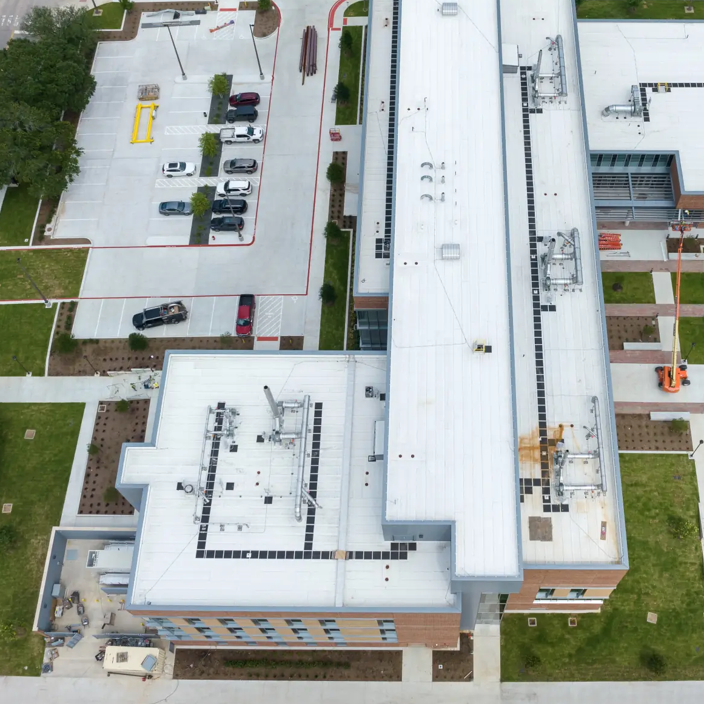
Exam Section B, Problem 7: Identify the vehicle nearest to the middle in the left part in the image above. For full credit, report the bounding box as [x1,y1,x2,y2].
[235,292,255,337]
